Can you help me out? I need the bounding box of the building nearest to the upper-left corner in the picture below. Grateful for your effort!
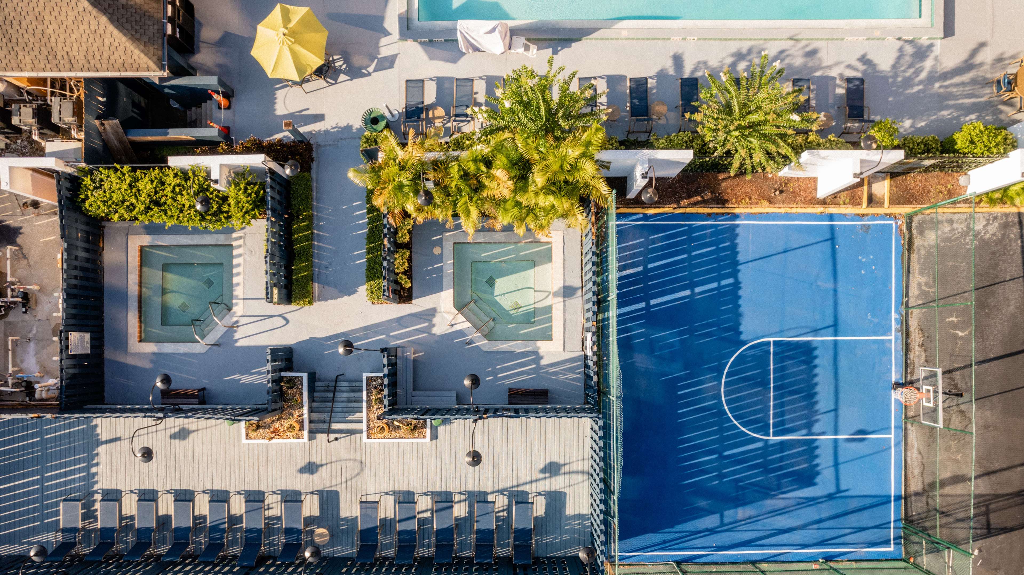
[0,0,184,78]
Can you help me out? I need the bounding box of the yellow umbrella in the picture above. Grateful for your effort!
[251,3,329,80]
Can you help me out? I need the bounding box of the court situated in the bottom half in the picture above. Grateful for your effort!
[596,209,902,561]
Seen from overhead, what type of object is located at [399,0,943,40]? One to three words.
swimming pool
